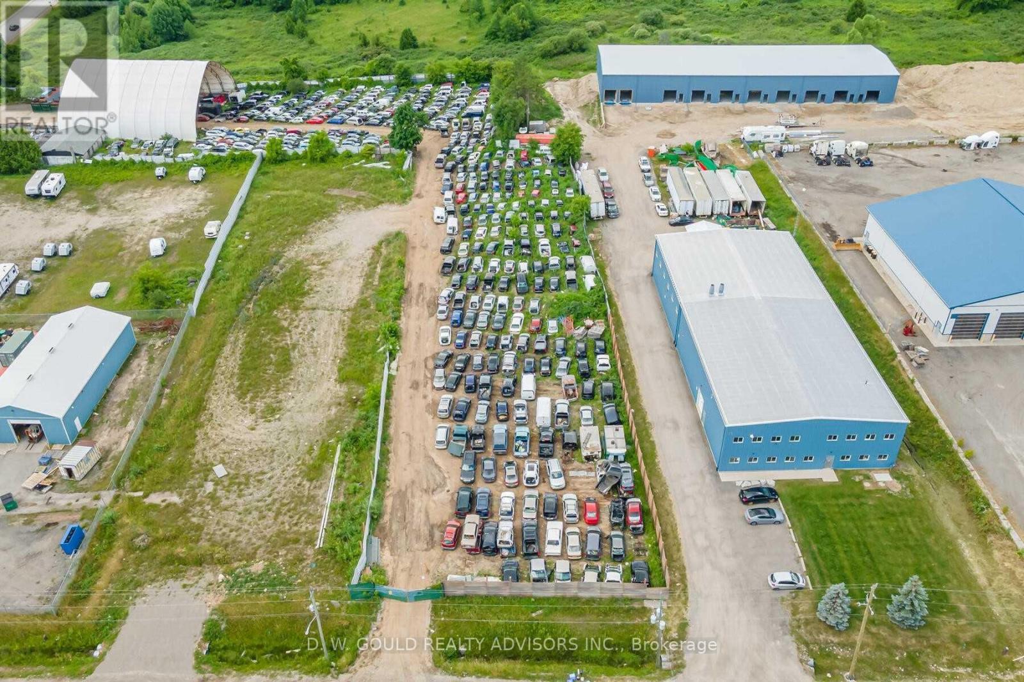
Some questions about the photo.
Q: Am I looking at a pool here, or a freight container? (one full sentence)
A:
Of the two, only a freight container appears.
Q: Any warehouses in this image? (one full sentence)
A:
Yes, a warehouse is visible in the scene.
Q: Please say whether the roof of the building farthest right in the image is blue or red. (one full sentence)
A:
From above, the roof of the building farthest right appears blue.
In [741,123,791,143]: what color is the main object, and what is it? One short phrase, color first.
white camper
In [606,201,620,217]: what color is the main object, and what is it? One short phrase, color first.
gray vehicle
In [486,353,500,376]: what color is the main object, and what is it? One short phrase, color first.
gray car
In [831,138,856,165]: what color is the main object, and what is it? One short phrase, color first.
white truck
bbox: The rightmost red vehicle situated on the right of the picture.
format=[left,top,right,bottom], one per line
[903,321,920,340]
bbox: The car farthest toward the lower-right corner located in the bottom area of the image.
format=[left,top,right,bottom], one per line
[765,572,808,592]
